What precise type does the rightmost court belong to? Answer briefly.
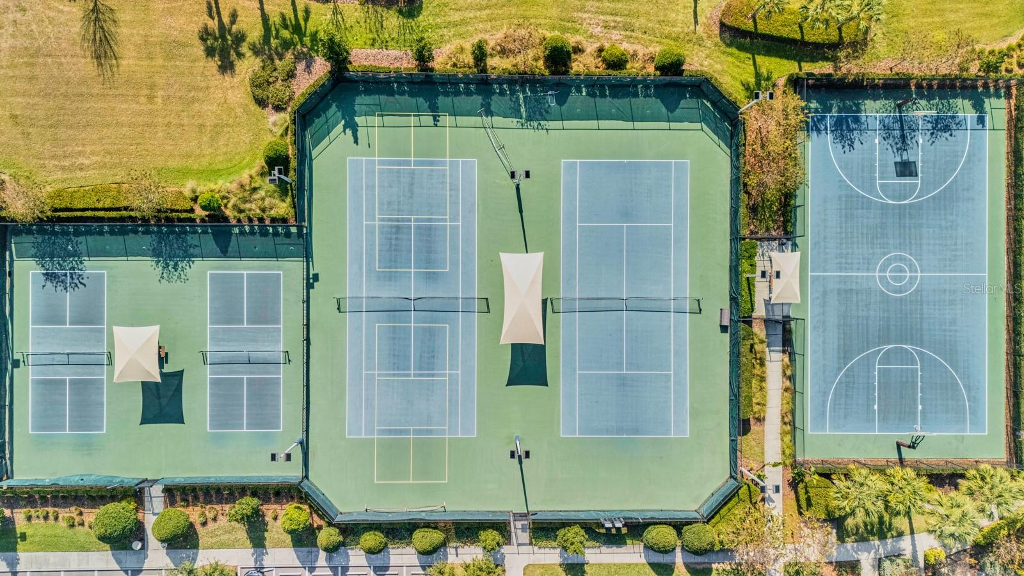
basketball court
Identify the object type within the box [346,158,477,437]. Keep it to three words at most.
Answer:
tennis court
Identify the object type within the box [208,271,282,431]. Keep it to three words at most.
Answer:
sports court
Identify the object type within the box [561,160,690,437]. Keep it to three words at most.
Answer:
tennis court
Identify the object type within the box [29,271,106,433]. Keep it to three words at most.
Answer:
sports court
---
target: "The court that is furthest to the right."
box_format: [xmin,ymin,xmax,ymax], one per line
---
[794,88,1005,459]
